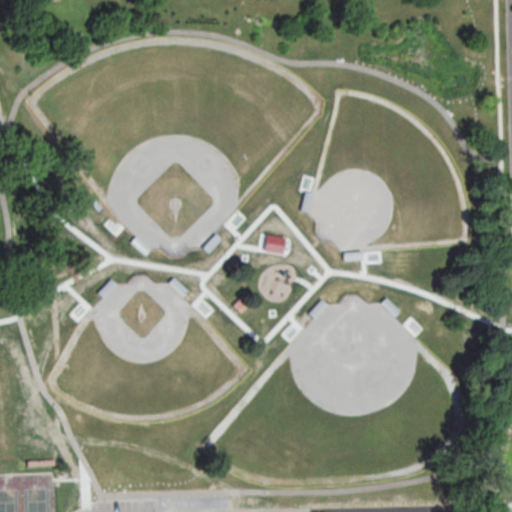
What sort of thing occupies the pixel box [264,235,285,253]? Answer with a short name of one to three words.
building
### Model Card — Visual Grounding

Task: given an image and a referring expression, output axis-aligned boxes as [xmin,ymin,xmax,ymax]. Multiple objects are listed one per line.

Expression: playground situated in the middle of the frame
[258,264,297,303]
